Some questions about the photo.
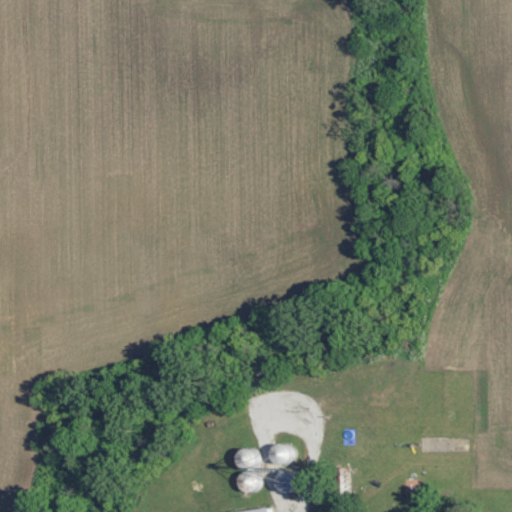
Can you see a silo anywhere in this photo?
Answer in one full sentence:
Yes, the image includes a silo.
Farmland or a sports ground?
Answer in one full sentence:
This image shows farmland.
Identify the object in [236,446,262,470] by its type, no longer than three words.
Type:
silo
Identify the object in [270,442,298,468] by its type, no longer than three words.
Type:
silo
